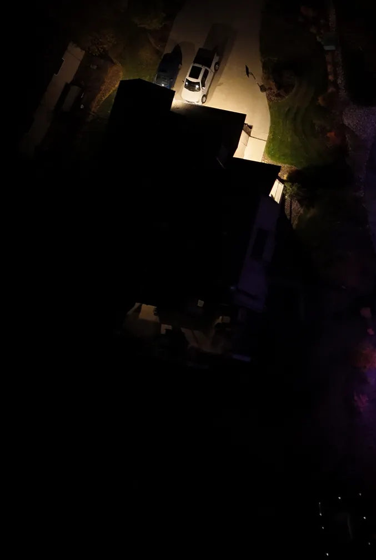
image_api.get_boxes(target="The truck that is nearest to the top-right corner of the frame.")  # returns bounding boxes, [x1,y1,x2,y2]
[182,43,222,105]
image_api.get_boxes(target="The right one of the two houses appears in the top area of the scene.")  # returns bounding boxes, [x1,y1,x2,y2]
[105,75,284,313]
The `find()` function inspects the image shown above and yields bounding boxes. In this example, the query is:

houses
[0,0,85,168]
[105,75,284,313]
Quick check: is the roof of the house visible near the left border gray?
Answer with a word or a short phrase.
No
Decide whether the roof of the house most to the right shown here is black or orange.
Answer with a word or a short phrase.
black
